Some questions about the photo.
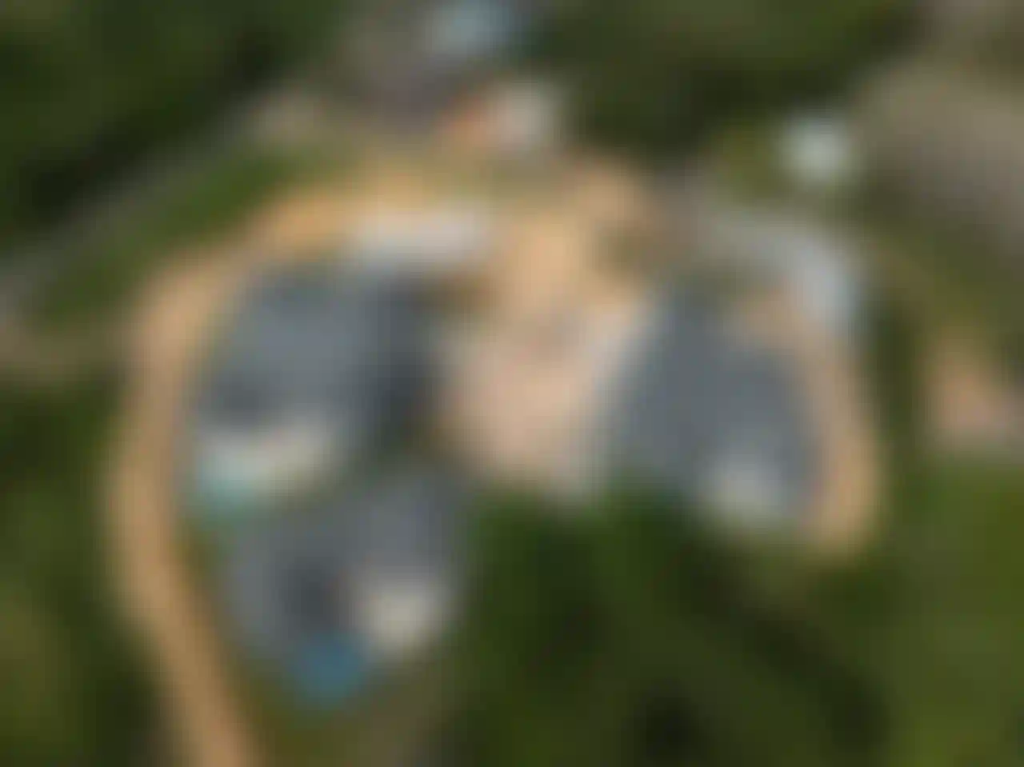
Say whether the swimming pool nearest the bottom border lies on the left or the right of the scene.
left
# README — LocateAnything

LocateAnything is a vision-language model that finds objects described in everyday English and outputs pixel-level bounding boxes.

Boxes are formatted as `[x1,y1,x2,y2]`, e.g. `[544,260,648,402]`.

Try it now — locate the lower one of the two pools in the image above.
[282,624,384,712]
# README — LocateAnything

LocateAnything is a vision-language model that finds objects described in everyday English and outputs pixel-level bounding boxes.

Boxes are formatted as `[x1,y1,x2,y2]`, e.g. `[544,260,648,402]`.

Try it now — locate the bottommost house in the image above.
[205,447,480,667]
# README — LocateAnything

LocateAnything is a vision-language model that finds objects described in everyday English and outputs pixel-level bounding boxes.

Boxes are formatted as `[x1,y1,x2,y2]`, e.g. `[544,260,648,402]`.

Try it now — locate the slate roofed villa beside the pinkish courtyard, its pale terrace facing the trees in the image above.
[599,284,848,549]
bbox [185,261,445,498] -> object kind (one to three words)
house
